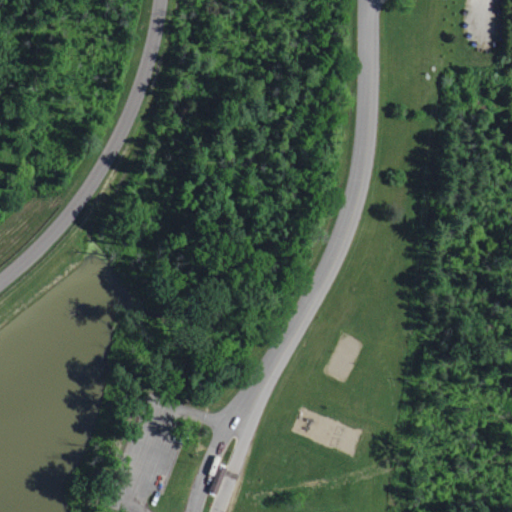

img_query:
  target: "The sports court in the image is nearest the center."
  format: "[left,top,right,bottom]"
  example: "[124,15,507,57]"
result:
[324,332,363,381]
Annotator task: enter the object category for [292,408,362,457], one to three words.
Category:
playground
